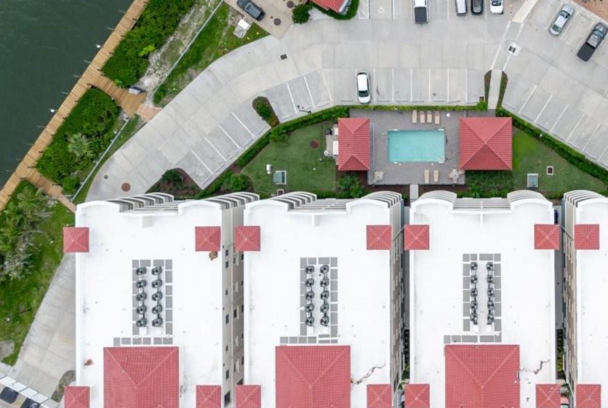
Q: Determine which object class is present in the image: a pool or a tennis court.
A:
pool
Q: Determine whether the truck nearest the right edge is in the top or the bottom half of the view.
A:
top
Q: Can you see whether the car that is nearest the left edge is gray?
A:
Yes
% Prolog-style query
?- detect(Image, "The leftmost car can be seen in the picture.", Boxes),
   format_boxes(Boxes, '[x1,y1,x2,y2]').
[234,0,268,23]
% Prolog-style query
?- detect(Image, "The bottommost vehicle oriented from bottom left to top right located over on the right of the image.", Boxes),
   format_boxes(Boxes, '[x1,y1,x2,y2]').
[576,22,608,63]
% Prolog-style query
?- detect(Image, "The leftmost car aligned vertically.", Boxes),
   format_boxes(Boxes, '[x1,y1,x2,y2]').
[356,70,372,106]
